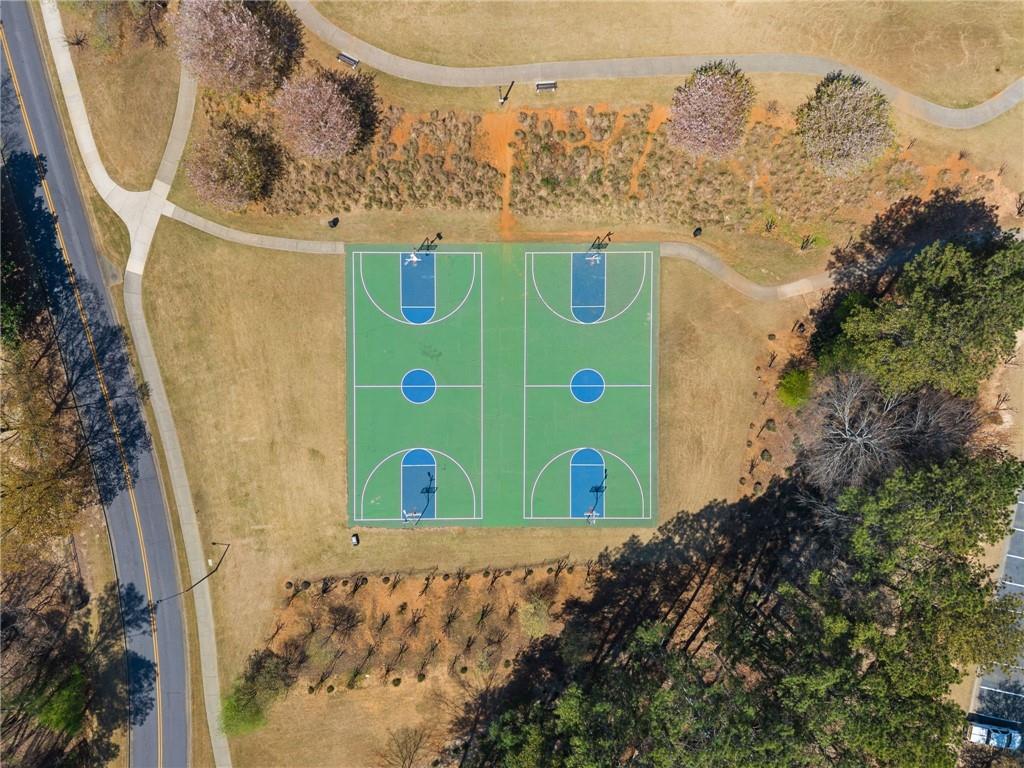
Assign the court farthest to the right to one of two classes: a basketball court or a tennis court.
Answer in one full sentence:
Specifically, the court farthest to the right is a basketball court.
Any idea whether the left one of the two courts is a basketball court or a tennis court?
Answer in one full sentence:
The left one of the two courts is a basketball court.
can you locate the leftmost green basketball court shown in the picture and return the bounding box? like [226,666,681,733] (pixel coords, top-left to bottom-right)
[346,244,503,528]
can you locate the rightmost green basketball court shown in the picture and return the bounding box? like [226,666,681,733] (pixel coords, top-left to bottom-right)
[503,243,660,527]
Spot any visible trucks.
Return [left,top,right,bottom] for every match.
[970,724,1024,752]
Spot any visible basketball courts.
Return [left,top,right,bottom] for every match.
[346,244,503,528]
[503,243,660,527]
